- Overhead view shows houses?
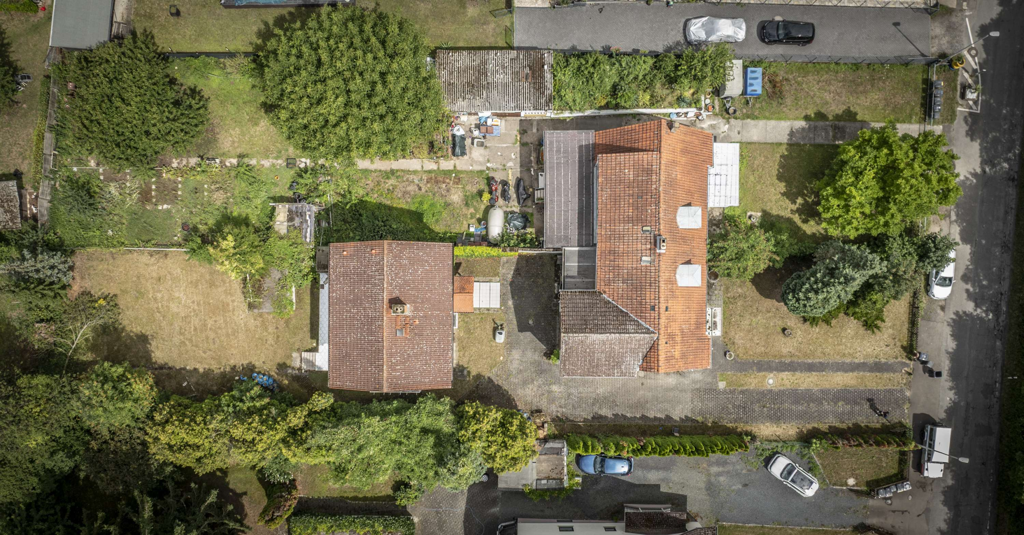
Yes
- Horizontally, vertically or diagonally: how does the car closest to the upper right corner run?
horizontally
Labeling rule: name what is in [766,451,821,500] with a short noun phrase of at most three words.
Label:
car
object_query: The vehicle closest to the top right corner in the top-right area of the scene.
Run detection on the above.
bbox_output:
[757,17,816,47]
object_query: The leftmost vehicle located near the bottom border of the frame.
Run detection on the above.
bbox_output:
[493,514,518,535]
